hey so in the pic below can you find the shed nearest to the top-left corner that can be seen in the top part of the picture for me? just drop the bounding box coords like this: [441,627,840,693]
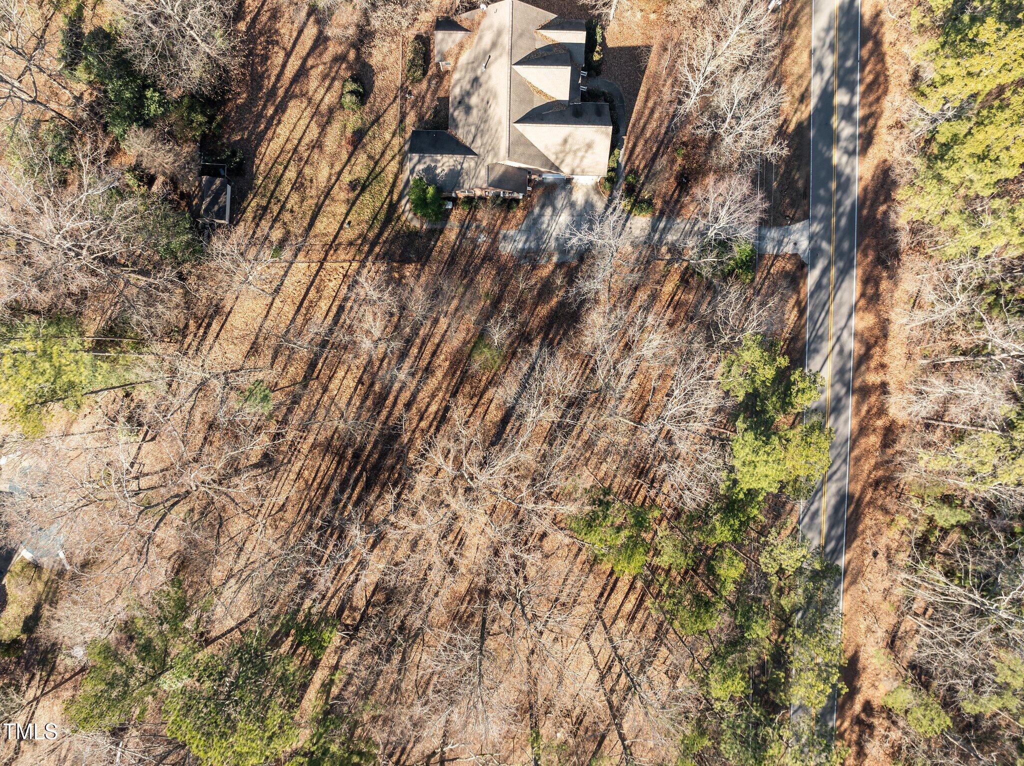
[200,155,243,255]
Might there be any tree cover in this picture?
Yes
